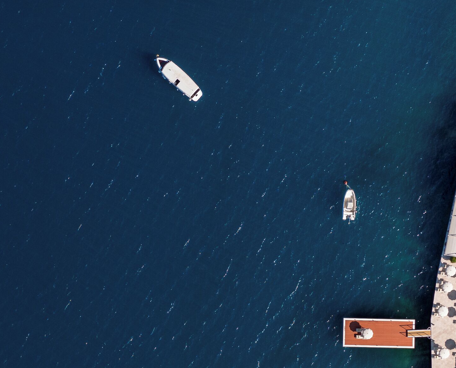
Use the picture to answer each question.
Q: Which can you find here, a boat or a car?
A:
boat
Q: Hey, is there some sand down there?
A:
No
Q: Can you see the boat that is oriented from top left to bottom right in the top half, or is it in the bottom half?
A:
top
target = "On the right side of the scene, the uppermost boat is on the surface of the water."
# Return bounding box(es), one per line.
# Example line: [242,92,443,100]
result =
[343,189,356,221]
